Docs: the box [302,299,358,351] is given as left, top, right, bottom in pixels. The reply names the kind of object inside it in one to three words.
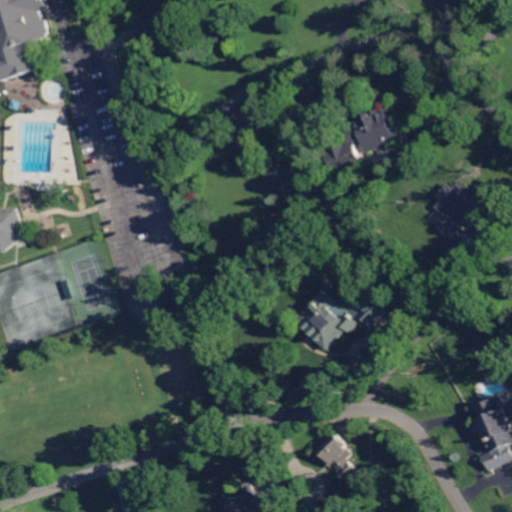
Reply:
house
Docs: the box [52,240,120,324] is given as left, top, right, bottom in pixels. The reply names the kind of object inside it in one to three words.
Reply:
tennis court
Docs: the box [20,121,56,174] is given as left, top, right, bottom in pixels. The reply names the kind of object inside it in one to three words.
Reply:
swimming pool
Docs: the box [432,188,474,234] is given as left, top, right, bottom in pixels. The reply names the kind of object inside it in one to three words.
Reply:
house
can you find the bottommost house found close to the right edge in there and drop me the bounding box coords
[477,406,512,474]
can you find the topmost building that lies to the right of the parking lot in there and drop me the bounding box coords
[326,112,398,166]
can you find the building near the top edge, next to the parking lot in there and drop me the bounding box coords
[0,0,50,84]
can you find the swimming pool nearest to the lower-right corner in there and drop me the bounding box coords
[474,381,510,402]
